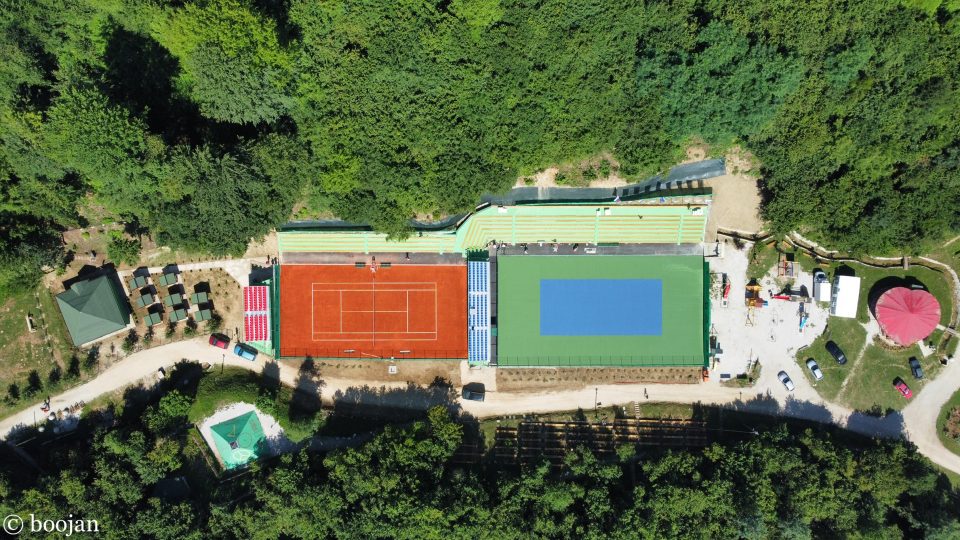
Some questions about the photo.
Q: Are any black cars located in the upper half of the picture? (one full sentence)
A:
No, there's no black car to be seen in the upper half of the picture.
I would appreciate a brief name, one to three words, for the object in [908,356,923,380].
car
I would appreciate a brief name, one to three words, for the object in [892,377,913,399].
car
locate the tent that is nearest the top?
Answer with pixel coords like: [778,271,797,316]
[828,276,861,318]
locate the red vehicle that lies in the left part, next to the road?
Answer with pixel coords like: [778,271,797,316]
[209,335,231,349]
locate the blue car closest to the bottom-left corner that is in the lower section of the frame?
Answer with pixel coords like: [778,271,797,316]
[234,345,259,360]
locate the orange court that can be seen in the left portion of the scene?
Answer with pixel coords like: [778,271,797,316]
[280,263,468,358]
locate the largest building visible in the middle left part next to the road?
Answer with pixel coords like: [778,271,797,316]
[55,274,143,347]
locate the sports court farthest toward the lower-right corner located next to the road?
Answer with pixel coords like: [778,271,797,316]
[498,254,703,366]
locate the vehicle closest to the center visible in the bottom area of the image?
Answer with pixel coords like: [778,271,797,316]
[462,389,486,401]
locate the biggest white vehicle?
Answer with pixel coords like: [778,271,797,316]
[815,274,832,303]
